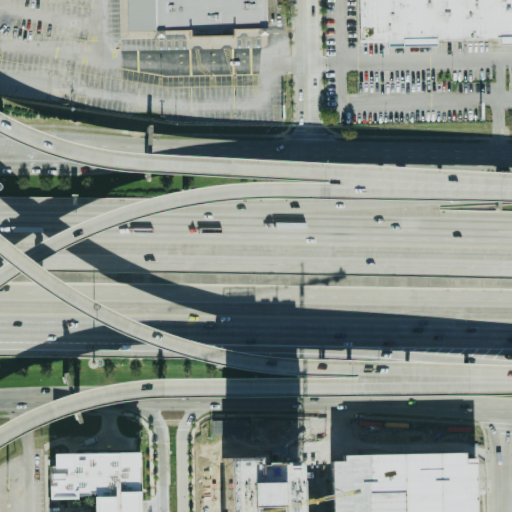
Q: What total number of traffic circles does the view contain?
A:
0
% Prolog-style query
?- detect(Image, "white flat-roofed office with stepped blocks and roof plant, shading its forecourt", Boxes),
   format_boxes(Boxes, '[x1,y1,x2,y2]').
[48,453,142,512]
